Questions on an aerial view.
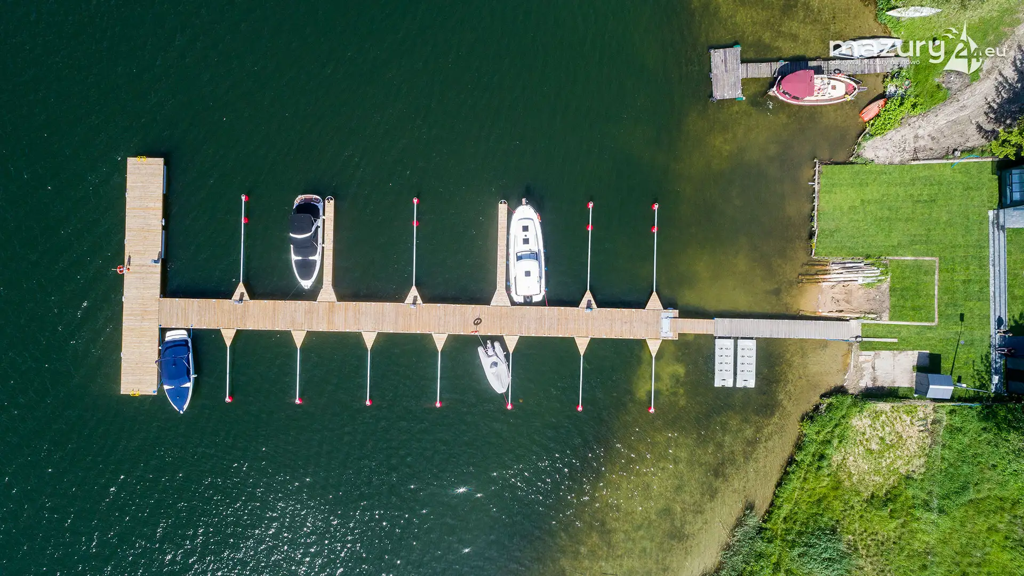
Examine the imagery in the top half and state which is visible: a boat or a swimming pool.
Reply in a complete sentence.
It is a boat that can be seen in the top half.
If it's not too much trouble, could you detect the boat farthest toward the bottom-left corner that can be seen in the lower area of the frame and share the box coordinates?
[152,325,203,415]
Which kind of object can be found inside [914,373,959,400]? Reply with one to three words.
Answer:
shed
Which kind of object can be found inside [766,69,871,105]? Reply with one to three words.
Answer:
boat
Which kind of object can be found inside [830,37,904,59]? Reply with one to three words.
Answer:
boat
